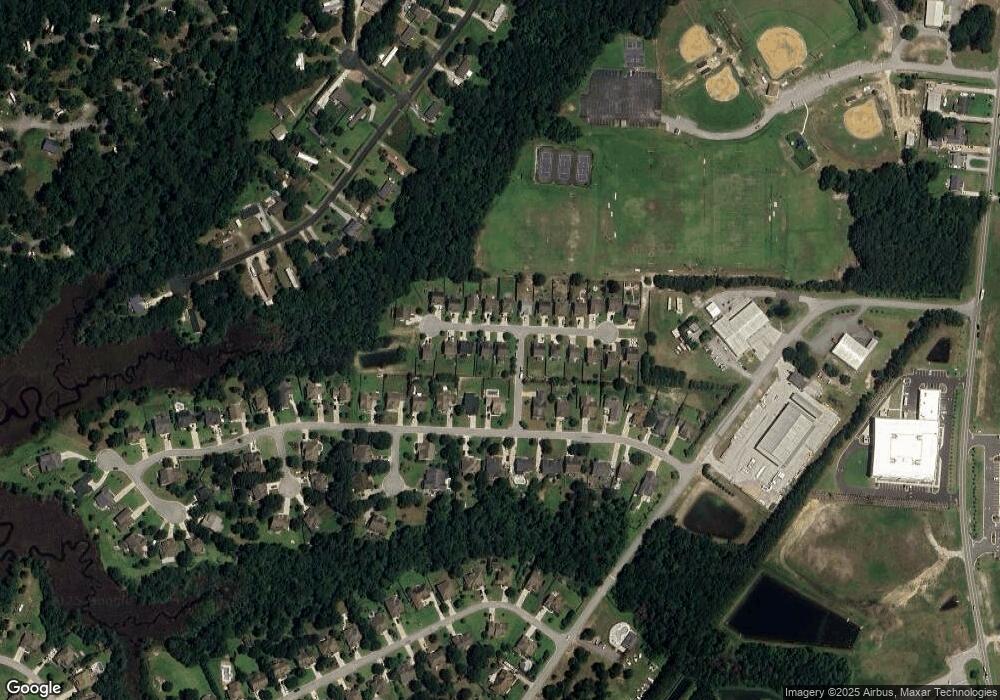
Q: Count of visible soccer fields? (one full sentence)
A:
I count 2 soccer fields.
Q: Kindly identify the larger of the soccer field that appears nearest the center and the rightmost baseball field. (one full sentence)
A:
The larger object is the soccer field, with the baseball field being the smaller of the pair.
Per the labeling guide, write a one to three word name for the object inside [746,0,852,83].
baseball field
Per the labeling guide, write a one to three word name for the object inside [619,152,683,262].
soccer field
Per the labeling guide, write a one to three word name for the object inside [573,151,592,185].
tennis court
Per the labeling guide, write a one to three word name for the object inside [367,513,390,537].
house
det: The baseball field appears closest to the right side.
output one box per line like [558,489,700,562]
[826,93,890,158]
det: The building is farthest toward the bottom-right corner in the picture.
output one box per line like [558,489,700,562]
[872,418,938,482]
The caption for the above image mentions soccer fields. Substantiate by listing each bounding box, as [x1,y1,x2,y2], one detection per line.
[619,152,683,262]
[706,152,771,262]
